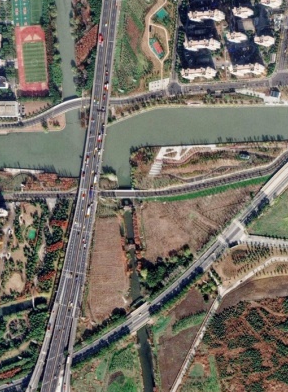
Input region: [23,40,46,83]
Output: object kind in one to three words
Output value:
soccer field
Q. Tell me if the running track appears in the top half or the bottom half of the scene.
top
